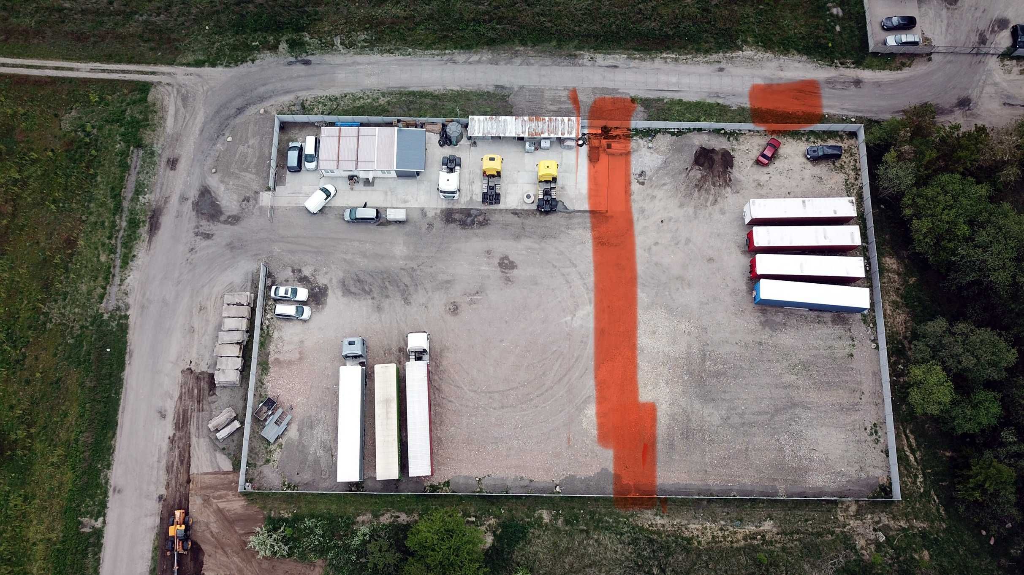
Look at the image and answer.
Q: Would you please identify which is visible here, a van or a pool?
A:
van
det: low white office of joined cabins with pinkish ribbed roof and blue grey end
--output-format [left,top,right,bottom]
[319,126,427,187]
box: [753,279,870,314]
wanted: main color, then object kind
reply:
white trailer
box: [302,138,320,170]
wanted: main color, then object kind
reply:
white car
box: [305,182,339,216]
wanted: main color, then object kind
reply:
white van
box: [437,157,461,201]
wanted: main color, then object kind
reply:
white truck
